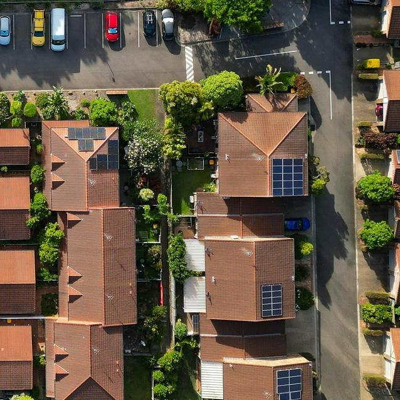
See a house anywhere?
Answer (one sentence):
Yes, there's a house here.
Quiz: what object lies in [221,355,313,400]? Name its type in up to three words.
house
